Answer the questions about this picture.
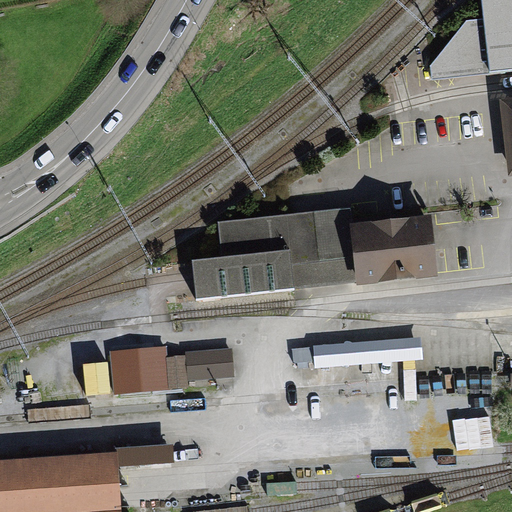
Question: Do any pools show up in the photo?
No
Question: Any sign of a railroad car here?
Yes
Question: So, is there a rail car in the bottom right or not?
Yes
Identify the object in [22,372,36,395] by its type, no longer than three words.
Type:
work vehicle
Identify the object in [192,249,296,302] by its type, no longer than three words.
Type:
building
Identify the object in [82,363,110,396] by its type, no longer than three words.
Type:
shed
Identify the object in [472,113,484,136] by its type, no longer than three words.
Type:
vehicle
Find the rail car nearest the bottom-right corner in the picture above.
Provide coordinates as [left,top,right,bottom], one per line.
[402,492,453,512]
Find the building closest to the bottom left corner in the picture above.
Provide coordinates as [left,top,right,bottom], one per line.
[0,452,120,512]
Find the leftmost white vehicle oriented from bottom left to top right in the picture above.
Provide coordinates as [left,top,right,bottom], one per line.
[34,150,56,168]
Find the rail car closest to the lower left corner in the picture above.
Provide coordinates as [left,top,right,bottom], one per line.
[24,405,93,424]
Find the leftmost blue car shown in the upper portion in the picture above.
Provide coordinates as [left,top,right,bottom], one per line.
[120,60,138,82]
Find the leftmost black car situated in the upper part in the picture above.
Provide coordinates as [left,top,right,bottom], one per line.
[38,174,58,192]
